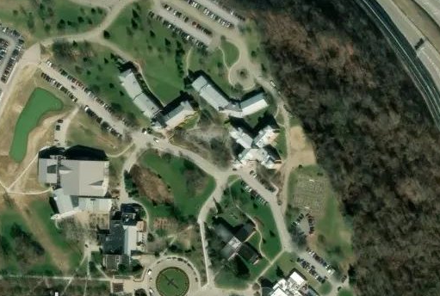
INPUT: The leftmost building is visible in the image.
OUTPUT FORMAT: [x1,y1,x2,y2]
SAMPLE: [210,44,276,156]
[38,159,116,219]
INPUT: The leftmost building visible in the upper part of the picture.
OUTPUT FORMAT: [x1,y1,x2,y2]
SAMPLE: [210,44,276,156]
[120,70,201,130]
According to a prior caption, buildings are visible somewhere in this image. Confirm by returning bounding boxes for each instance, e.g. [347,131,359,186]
[38,159,116,219]
[214,222,266,266]
[229,126,287,172]
[192,76,273,118]
[271,272,312,296]
[103,208,146,271]
[120,70,201,130]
